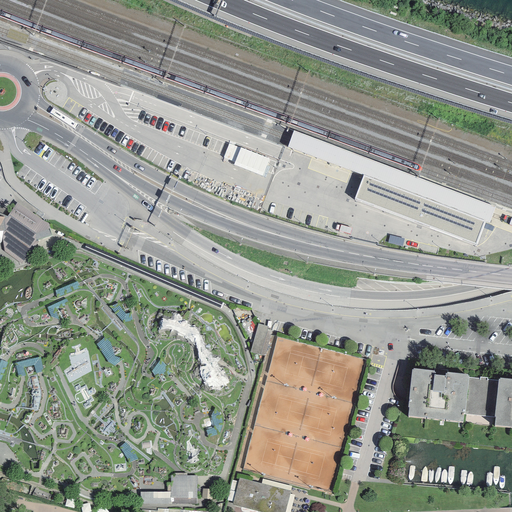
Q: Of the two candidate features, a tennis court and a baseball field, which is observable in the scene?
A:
tennis court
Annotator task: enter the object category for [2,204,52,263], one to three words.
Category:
house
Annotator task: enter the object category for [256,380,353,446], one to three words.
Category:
tennis court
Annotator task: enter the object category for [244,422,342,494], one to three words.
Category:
tennis court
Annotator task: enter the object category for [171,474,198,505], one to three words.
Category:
building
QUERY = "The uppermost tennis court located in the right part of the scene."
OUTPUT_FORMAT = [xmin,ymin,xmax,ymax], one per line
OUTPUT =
[266,337,364,403]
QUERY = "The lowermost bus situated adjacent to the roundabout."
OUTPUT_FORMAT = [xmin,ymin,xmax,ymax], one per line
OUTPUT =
[50,108,78,131]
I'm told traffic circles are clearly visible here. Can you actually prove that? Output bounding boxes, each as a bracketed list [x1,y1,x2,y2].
[0,54,40,130]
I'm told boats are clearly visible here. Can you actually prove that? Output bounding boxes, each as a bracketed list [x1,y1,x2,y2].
[461,469,466,484]
[422,466,428,482]
[486,471,492,485]
[500,474,505,487]
[435,467,440,482]
[494,464,500,484]
[442,469,447,483]
[410,464,415,480]
[467,472,473,484]
[448,464,454,483]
